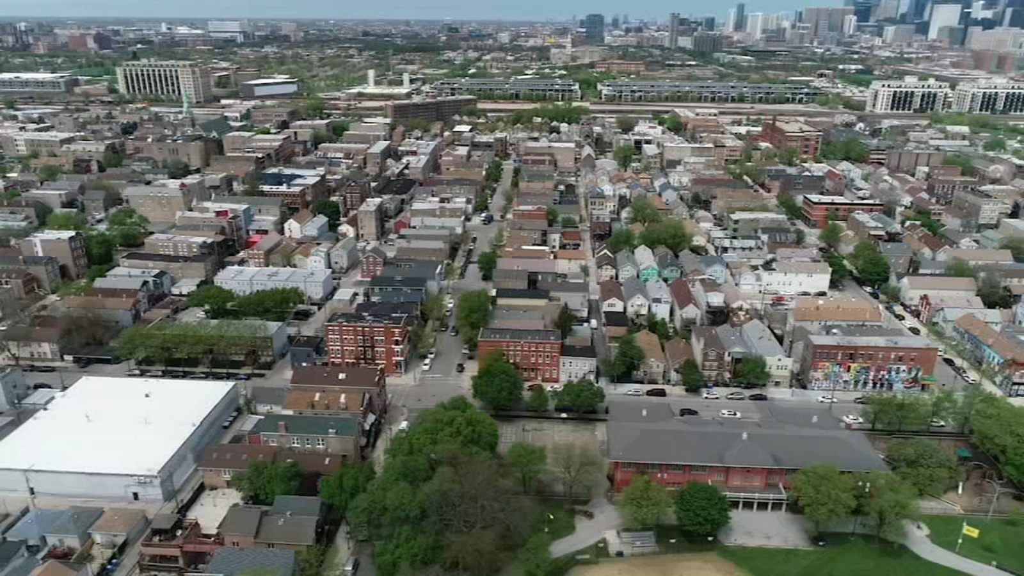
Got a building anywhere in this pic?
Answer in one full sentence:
Yes, a building is visible in the scene.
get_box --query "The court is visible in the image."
[494,422,607,500]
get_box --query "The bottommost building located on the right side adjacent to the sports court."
[605,398,884,517]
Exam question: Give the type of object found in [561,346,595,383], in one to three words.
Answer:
building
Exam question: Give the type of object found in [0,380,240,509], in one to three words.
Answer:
warehouse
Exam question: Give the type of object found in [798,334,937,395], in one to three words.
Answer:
building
